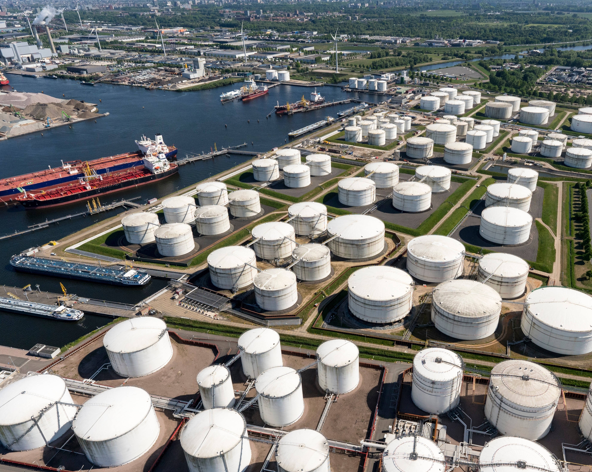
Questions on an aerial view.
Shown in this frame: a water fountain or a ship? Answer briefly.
ship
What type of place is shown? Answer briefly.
industrial area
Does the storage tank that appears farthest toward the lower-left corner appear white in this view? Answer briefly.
Yes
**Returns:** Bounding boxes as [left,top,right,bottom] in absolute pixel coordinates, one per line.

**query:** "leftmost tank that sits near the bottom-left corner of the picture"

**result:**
[0,373,78,453]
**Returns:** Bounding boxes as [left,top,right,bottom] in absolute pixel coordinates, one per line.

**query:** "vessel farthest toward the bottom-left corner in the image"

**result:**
[0,299,87,322]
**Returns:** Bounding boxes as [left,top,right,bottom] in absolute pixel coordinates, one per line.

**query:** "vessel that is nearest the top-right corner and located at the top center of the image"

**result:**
[337,103,369,116]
